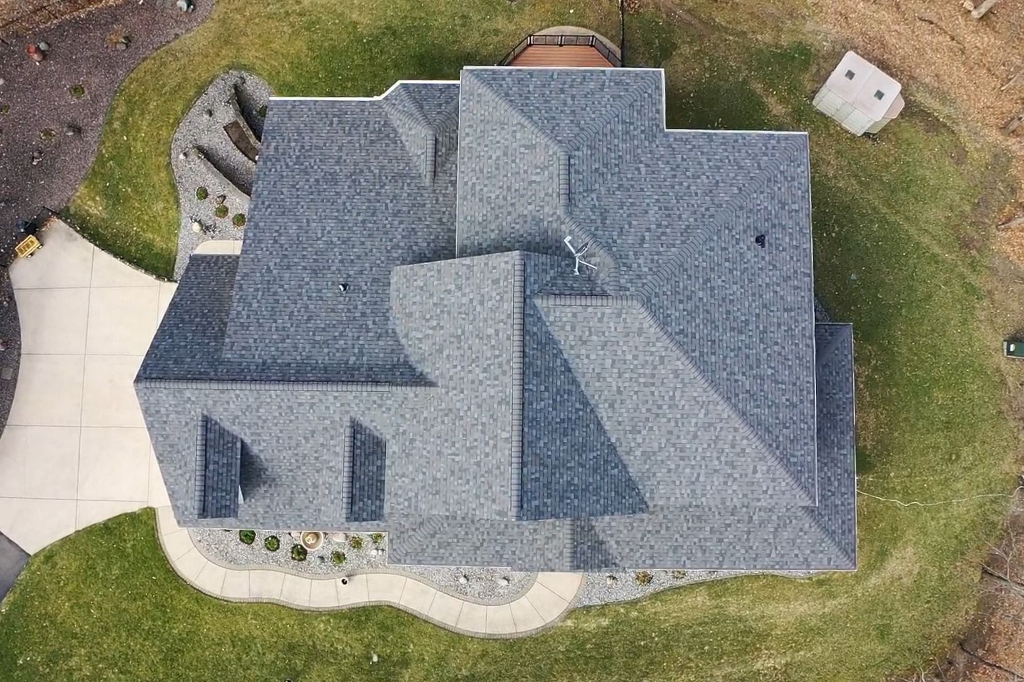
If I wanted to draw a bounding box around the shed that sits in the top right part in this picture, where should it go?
[810,51,902,136]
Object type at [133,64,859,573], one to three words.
house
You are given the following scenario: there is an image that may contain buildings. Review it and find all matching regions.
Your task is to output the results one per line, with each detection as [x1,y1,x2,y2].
[133,64,859,573]
[810,51,902,136]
